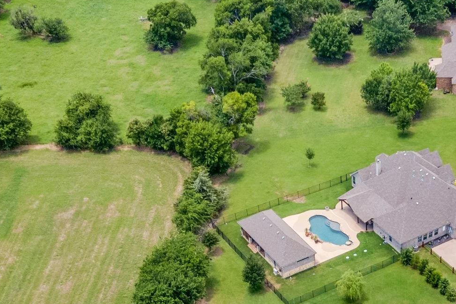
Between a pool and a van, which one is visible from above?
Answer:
pool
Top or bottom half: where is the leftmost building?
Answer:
bottom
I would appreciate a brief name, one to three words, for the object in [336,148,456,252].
house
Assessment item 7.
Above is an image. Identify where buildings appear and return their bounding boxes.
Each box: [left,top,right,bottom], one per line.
[237,209,317,279]
[336,148,456,252]
[435,24,456,95]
